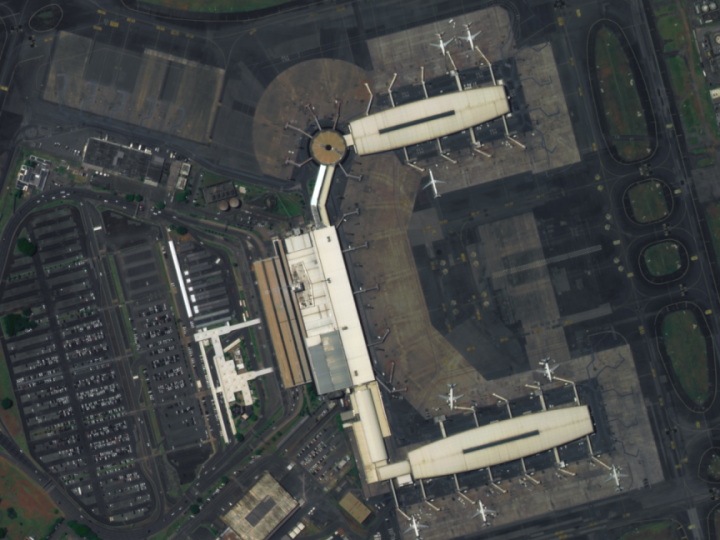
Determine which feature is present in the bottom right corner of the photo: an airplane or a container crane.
airplane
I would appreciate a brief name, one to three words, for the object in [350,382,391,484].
building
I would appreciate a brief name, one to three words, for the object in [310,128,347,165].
building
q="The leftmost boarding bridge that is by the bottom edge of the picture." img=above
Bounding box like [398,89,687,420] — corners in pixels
[390,479,413,522]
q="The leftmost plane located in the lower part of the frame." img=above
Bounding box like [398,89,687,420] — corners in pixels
[405,516,431,540]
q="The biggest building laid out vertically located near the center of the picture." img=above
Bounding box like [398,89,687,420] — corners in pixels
[285,225,376,395]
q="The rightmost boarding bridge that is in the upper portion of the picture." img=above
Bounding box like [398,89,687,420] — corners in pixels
[503,114,527,149]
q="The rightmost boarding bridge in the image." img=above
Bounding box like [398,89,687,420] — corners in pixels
[587,435,614,472]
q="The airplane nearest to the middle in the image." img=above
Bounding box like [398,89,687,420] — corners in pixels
[423,169,449,198]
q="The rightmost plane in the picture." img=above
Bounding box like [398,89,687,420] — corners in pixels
[606,465,631,493]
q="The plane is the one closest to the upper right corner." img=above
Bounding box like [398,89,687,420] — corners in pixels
[457,24,481,51]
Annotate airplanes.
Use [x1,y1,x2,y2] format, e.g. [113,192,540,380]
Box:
[423,169,449,198]
[440,384,464,410]
[473,501,497,527]
[536,356,558,382]
[405,516,431,540]
[457,24,481,51]
[606,465,631,493]
[430,32,452,56]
